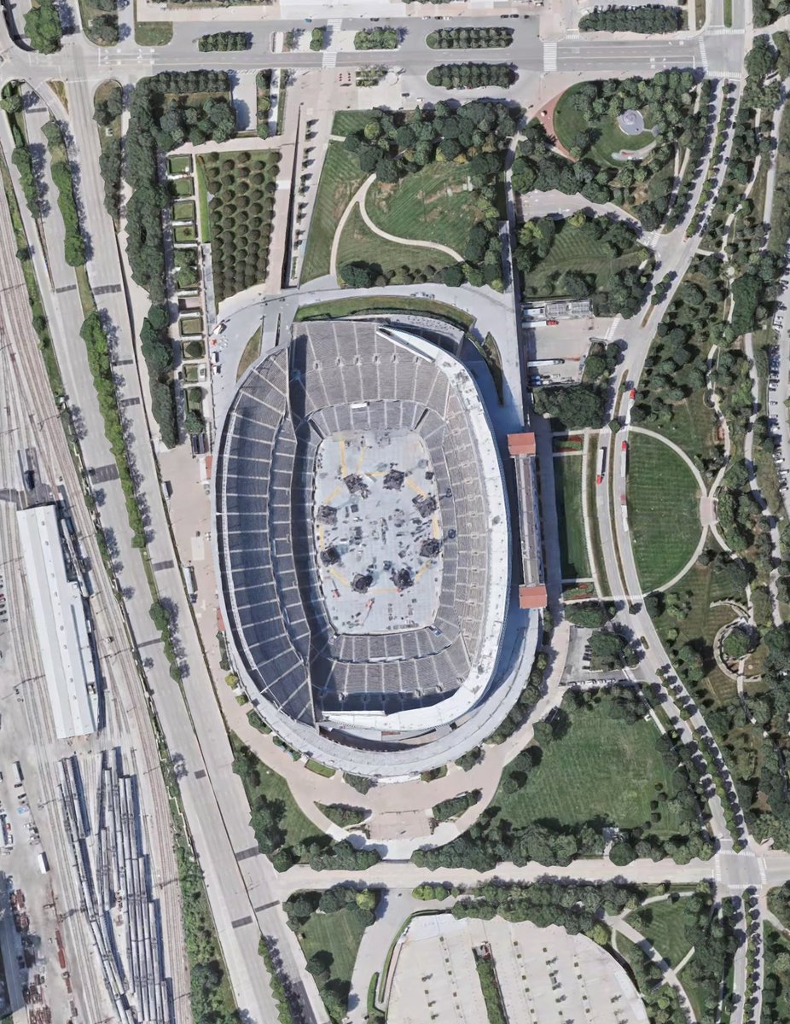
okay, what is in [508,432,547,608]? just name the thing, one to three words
building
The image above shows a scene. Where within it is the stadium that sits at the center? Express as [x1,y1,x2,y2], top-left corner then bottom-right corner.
[210,316,540,775]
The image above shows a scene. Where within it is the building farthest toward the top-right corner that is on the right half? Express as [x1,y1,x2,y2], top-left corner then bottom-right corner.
[523,297,594,318]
